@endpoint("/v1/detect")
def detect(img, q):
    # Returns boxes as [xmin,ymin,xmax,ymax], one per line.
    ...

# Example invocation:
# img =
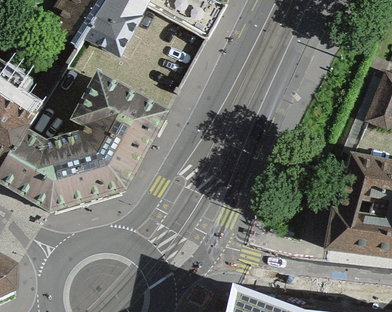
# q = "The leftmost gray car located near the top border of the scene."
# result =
[141,12,154,29]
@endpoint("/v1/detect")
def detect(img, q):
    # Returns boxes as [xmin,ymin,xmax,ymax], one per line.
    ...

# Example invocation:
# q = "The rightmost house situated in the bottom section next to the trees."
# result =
[324,151,392,260]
